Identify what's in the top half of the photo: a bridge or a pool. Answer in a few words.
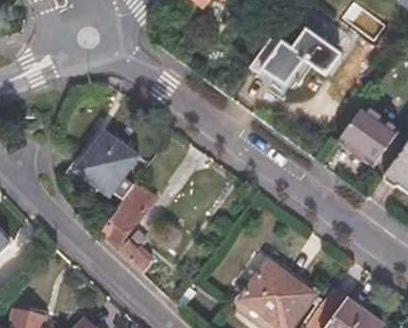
pool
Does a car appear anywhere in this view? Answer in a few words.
Yes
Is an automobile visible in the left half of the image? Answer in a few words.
No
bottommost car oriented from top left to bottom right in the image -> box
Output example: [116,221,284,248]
[267,148,290,168]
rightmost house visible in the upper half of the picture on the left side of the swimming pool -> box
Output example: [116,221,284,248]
[248,28,342,102]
